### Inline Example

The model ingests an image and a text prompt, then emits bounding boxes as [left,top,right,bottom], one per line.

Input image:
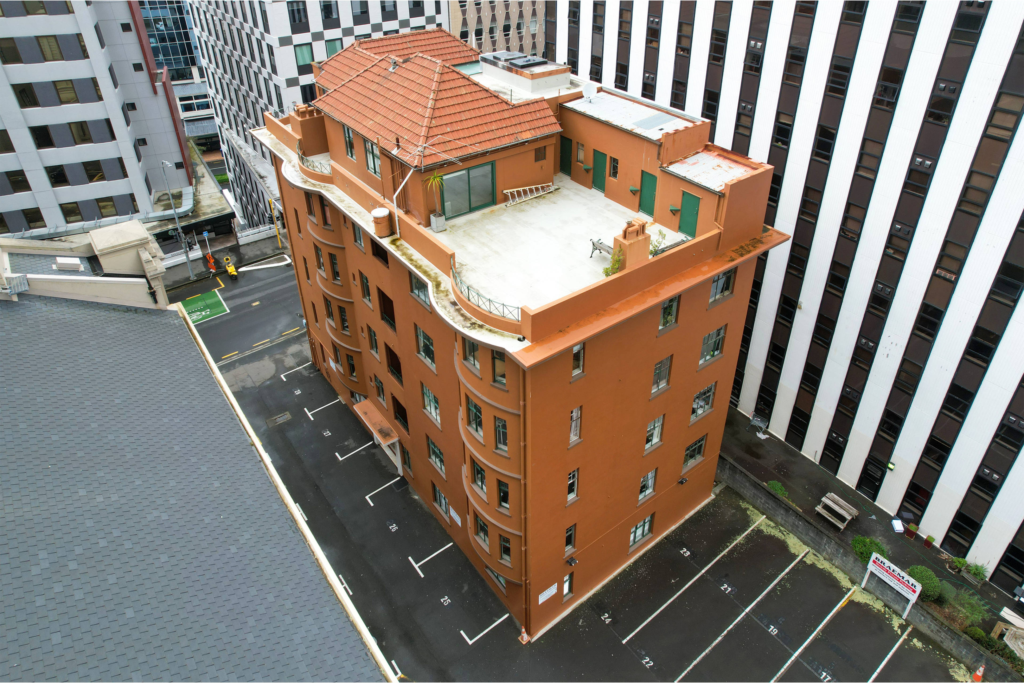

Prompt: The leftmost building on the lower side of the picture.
[0,219,392,683]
